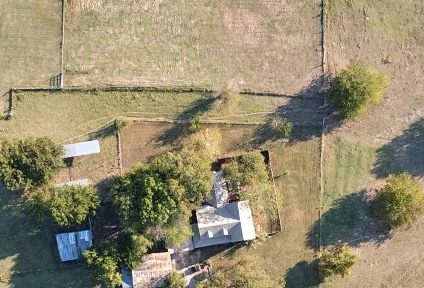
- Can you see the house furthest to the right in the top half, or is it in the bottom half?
bottom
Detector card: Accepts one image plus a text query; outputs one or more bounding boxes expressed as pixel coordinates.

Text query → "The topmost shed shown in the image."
[62,140,101,158]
